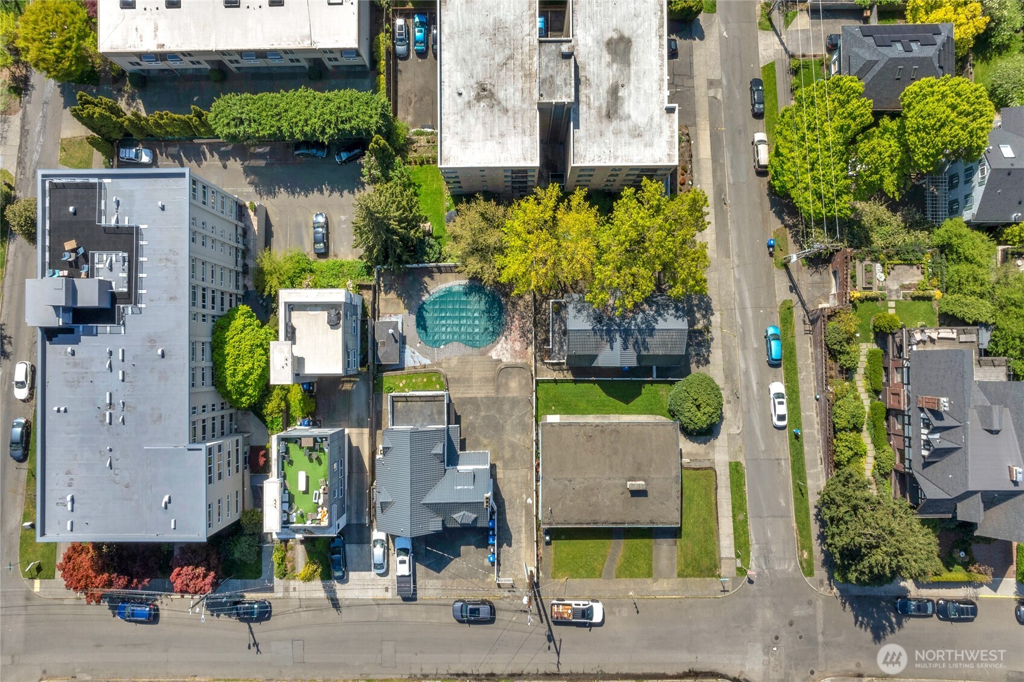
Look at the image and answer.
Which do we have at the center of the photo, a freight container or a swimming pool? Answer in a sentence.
There is a swimming pool at the center of the photo.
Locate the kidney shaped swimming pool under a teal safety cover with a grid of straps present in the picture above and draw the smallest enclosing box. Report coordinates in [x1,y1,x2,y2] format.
[402,275,513,365]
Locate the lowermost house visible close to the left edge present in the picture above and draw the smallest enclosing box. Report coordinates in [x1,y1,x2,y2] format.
[25,167,258,542]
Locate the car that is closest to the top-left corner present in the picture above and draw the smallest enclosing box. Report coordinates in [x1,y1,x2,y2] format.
[114,144,160,166]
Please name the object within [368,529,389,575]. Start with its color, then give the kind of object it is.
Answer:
white car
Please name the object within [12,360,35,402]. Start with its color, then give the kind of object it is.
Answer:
white car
